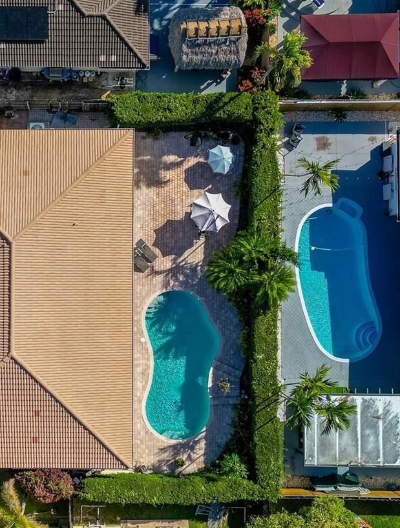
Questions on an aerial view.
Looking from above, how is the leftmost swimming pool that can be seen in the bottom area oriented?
from top to bottom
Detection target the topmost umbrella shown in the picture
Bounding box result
[206,147,232,174]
